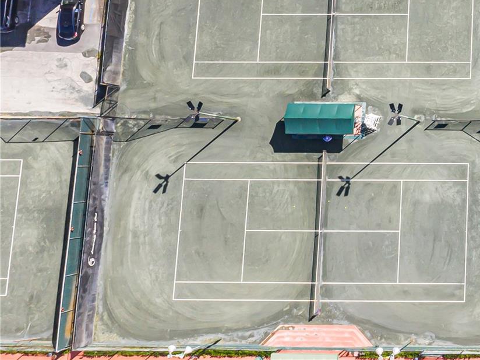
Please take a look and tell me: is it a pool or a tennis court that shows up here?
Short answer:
tennis court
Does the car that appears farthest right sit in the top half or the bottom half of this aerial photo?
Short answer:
top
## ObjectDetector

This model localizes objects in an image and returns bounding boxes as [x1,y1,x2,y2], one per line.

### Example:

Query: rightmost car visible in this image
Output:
[57,0,87,42]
